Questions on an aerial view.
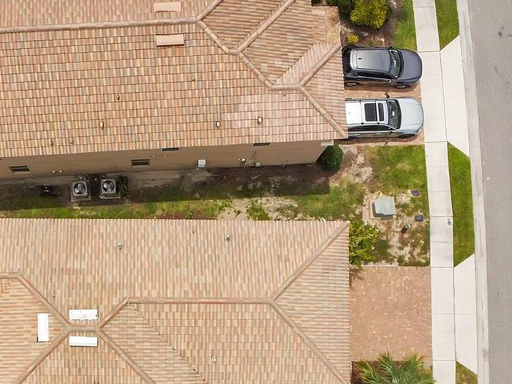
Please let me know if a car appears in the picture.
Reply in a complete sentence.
Yes, looking at the shot, I can spot a car.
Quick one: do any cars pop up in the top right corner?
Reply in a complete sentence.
Yes, in the top right corner there is a car.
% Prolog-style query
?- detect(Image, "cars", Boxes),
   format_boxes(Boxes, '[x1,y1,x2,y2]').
[343,42,421,89]
[349,94,423,141]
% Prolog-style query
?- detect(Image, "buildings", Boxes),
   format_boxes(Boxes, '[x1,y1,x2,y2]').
[0,0,351,181]
[0,217,352,384]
